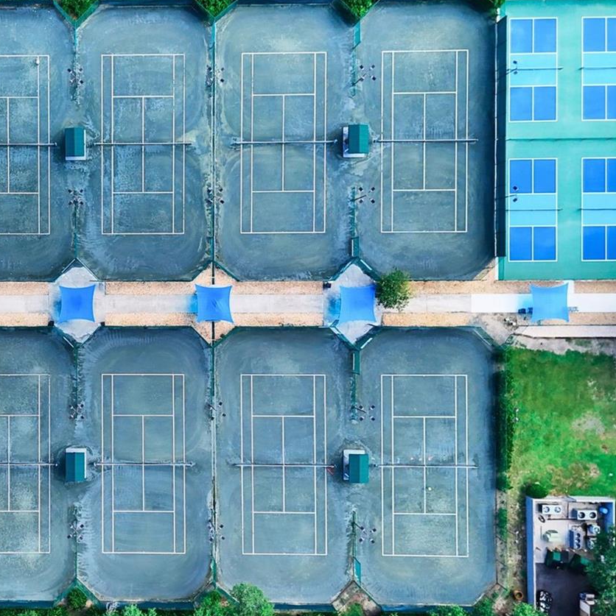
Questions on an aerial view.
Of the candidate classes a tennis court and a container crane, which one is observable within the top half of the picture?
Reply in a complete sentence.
The feature located within the top half of the picture is a tennis court.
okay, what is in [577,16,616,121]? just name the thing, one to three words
sports court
